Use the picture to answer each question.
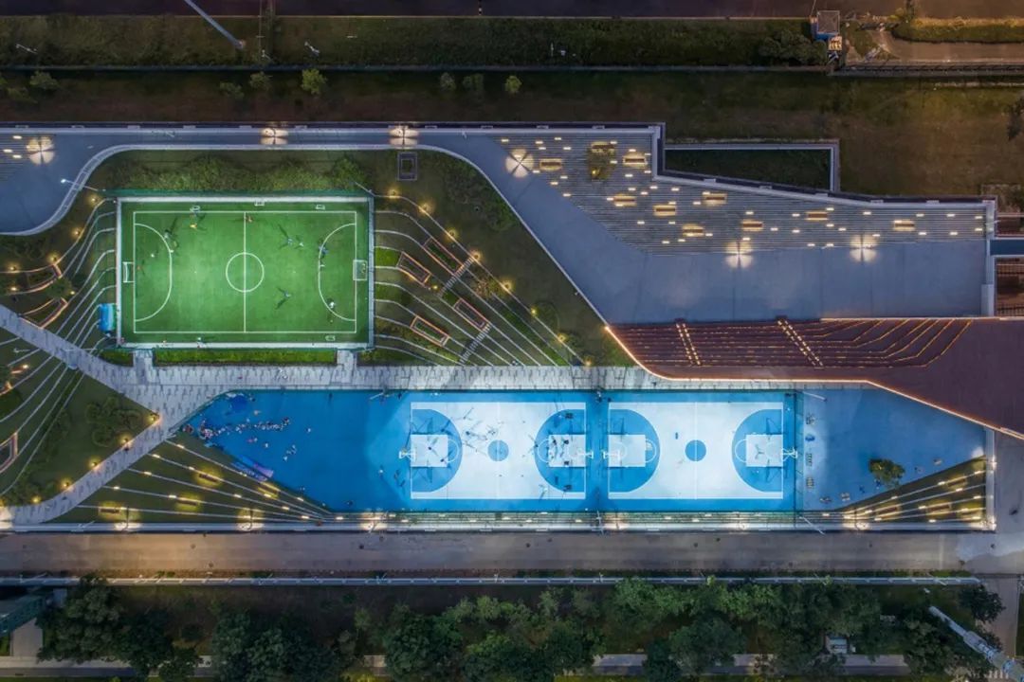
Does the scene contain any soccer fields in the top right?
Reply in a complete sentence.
No, no soccer field is visible in the top right.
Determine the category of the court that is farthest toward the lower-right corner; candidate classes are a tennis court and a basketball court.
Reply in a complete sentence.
It turns out the court that is farthest toward the lower-right corner is a basketball court.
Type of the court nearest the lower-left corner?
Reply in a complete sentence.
I'd say the court nearest the lower-left corner is a basketball court.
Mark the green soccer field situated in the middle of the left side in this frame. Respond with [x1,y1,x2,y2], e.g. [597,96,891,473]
[115,197,375,348]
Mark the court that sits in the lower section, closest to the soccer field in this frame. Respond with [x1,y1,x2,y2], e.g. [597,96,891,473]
[410,402,586,499]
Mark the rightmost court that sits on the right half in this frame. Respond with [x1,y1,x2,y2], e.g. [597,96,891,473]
[608,402,784,499]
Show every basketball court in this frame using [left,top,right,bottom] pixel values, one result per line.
[410,402,586,499]
[608,402,784,499]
